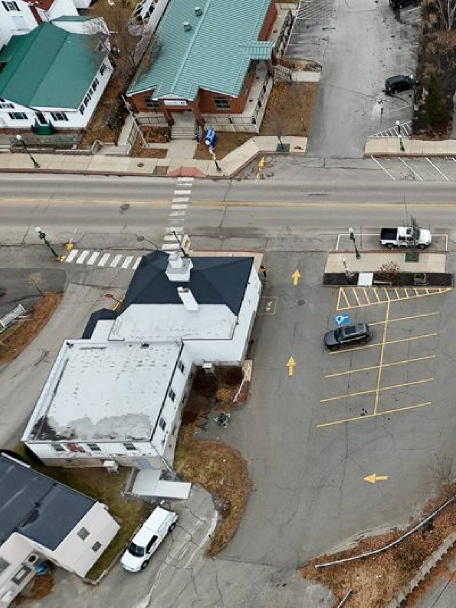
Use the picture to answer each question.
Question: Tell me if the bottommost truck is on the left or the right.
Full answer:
The bottommost truck is on the left side of the image.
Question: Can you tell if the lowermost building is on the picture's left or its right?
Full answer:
It is on the left.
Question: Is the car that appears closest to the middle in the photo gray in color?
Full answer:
Yes, the car that appears closest to the middle appears gray.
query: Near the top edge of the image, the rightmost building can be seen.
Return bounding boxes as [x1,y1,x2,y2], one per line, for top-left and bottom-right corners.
[126,0,288,149]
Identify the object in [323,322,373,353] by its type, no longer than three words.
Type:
car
